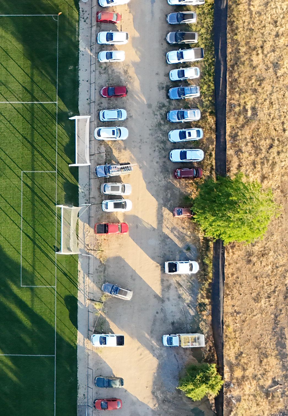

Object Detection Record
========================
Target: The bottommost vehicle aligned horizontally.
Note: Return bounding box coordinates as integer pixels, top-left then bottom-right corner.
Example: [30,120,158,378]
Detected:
[92,397,123,412]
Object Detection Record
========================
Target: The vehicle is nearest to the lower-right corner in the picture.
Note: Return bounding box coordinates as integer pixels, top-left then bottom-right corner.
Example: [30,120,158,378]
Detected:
[161,333,207,348]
